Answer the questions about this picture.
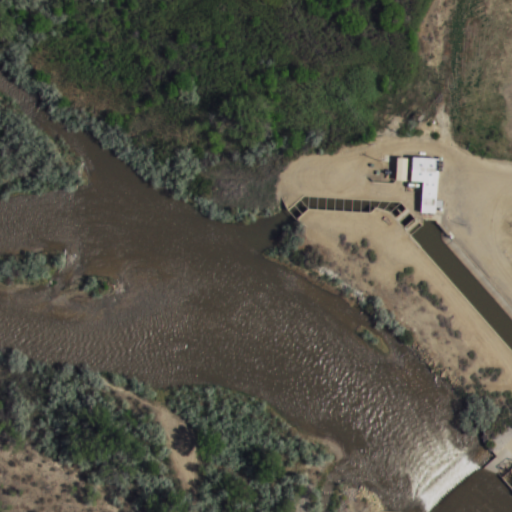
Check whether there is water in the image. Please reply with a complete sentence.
Yes, the picture does contain water.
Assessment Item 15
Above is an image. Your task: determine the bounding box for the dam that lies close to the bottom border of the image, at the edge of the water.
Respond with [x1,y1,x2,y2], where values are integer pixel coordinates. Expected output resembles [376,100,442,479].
[416,454,480,512]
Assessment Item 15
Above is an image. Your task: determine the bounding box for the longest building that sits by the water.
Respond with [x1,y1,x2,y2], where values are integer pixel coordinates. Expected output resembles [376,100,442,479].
[412,156,441,214]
